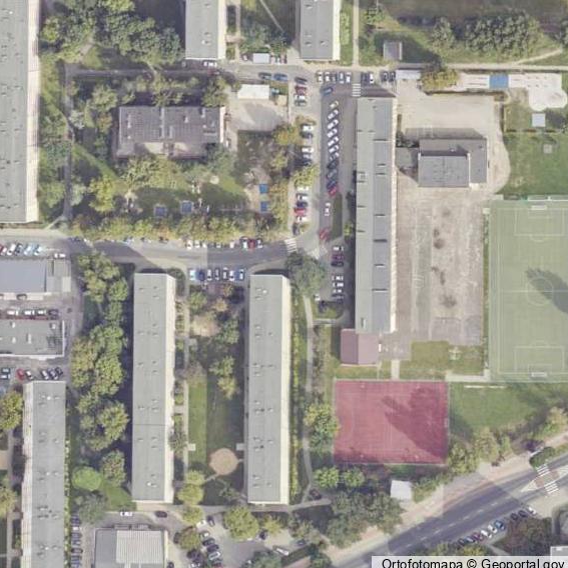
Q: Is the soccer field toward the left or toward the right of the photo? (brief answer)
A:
right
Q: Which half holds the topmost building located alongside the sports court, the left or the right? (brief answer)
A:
right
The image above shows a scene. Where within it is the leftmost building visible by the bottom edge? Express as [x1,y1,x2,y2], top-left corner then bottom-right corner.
[22,381,66,568]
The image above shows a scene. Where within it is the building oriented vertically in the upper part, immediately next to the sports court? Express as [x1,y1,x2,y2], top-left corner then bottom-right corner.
[356,96,395,333]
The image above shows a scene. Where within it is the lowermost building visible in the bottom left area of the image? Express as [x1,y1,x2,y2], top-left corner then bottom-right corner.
[95,523,167,568]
